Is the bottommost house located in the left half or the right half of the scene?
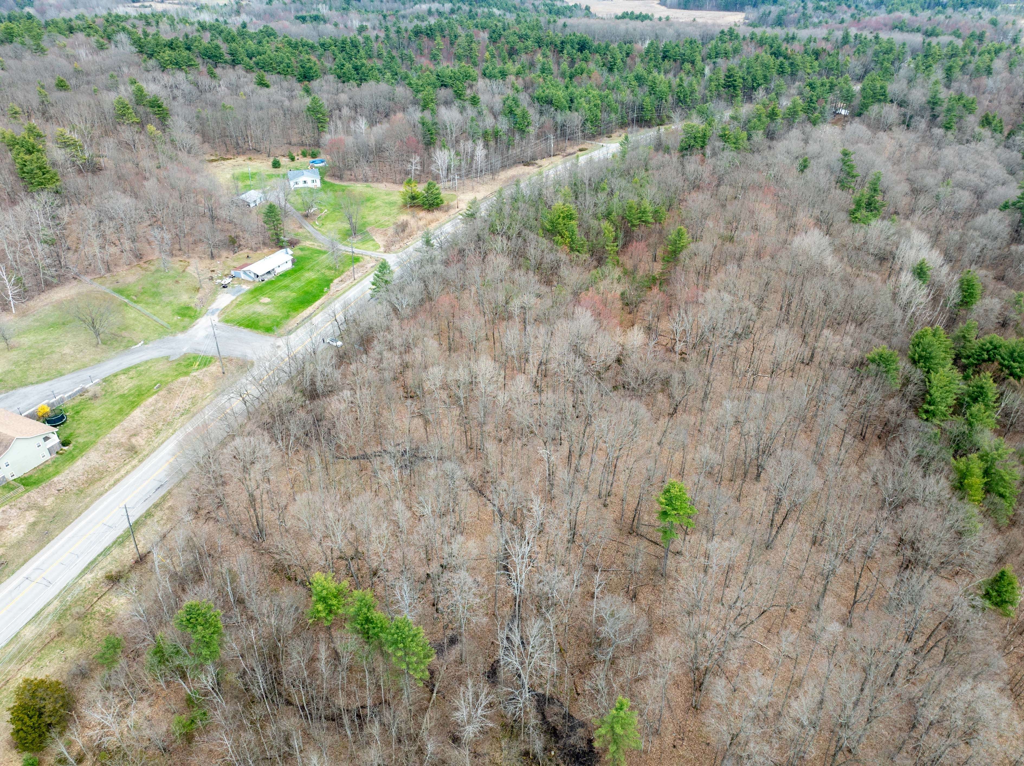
left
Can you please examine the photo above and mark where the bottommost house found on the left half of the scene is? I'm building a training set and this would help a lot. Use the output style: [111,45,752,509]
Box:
[0,408,65,481]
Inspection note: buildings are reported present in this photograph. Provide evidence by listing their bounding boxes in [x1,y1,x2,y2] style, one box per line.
[285,170,322,187]
[0,408,65,481]
[232,252,297,282]
[229,191,267,208]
